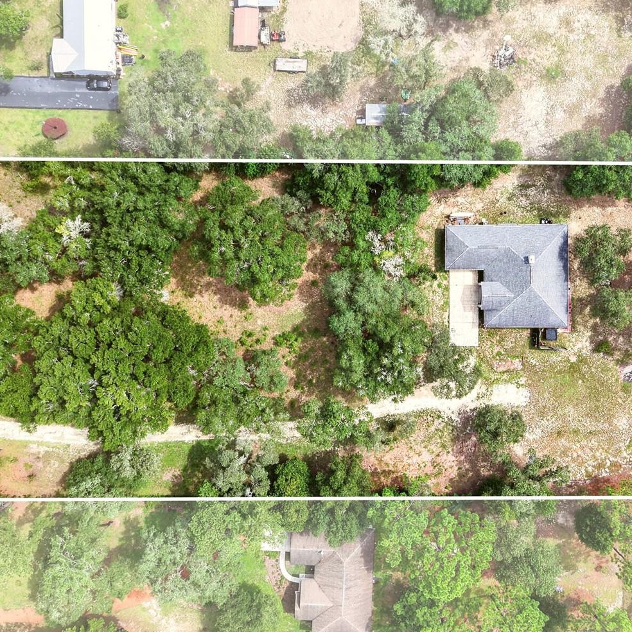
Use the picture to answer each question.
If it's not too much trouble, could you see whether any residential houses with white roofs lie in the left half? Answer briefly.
Yes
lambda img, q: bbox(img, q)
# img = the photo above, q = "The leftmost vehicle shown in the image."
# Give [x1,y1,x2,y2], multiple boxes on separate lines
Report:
[84,77,110,90]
